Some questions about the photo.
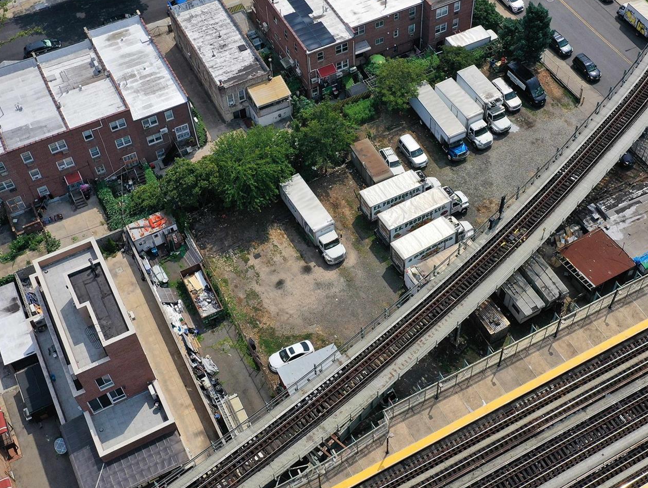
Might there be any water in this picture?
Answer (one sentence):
No, the scene doesn't show any water.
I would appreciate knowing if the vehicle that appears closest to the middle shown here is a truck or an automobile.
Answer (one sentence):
Specifically, the vehicle that appears closest to the middle is a truck.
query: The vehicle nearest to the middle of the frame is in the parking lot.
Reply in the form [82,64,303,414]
[280,175,350,268]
